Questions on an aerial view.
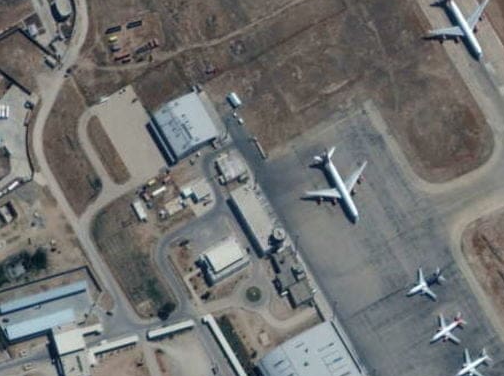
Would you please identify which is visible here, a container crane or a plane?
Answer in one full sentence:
This aerial view contains a plane.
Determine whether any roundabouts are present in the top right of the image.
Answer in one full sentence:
No, I can find no roundabout in the top right of the image.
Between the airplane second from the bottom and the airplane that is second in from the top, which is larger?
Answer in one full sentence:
The airplane that is second in from the top takes up more space than the airplane second from the bottom does.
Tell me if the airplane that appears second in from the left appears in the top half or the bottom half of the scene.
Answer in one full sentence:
The bottom half of the photo is where the airplane that appears second in from the left is.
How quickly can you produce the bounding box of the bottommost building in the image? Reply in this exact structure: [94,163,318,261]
[62,350,94,376]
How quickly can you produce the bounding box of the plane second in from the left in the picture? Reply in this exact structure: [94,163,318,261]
[406,267,443,299]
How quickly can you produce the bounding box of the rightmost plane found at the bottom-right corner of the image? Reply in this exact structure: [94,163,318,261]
[455,350,491,376]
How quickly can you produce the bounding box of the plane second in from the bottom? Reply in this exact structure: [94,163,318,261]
[431,313,467,343]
